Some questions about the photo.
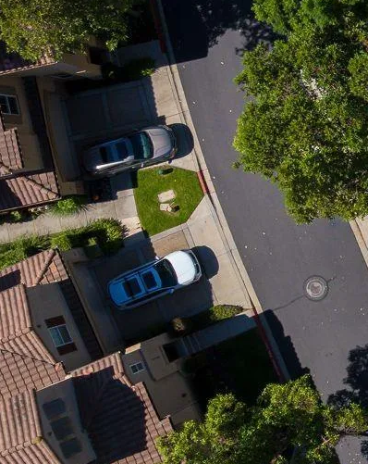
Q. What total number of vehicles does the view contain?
2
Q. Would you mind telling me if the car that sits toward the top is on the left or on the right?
left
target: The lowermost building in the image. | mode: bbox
[0,249,218,464]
